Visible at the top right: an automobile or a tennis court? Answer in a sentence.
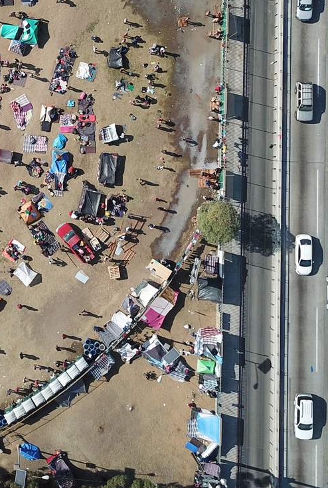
What appears at the top right is an automobile.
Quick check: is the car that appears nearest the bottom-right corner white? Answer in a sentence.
Yes, white is the color of the car that appears nearest the bottom-right corner.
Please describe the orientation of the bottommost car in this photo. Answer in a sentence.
The bottommost car is laid out vertically.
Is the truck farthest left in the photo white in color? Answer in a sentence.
No, the truck farthest left is actually red.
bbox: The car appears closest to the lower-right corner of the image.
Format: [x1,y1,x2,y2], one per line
[292,391,316,439]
